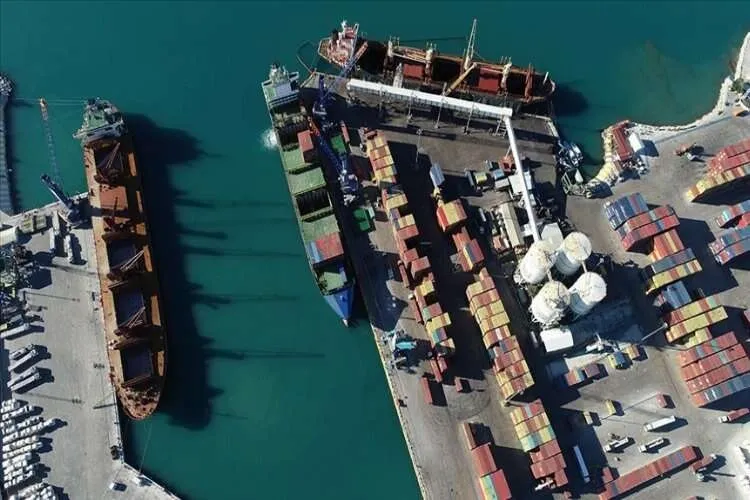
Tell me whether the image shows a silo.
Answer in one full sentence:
Yes, you can see a silo in this photo.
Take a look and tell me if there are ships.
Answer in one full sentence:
Yes, the photo shows a ship.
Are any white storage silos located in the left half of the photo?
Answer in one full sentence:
No, the scene shows no white storage silo in the left half of the photo.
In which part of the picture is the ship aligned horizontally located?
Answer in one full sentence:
The ship aligned horizontally is in the top part of the image.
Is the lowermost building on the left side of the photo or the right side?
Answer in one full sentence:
The lowermost building appears in the right half of the scene.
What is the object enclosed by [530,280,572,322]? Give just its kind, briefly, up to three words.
silo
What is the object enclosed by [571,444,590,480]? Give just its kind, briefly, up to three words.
vehicle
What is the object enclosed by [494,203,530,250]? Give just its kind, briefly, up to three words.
building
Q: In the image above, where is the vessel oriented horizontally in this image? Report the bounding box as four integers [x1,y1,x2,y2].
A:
[304,19,557,122]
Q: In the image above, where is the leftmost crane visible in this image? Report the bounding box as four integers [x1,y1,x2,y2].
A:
[39,99,86,226]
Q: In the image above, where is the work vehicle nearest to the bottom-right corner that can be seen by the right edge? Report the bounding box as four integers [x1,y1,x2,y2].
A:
[686,458,715,489]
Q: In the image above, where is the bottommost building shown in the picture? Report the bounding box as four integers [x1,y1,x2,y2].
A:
[538,327,575,354]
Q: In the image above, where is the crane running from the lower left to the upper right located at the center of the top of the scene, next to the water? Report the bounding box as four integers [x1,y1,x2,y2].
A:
[305,40,369,131]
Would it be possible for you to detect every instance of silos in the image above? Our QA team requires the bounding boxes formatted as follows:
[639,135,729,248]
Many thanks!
[521,236,562,280]
[567,272,609,315]
[530,280,572,322]
[553,232,593,276]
